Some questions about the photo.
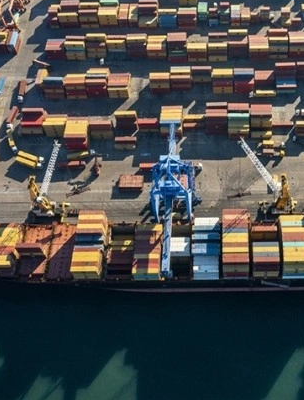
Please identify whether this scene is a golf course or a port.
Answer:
port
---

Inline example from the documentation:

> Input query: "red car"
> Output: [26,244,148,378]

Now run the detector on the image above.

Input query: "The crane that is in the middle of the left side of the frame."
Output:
[29,140,64,216]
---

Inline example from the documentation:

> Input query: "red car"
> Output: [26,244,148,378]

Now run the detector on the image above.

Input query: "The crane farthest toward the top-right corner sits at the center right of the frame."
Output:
[228,138,303,215]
